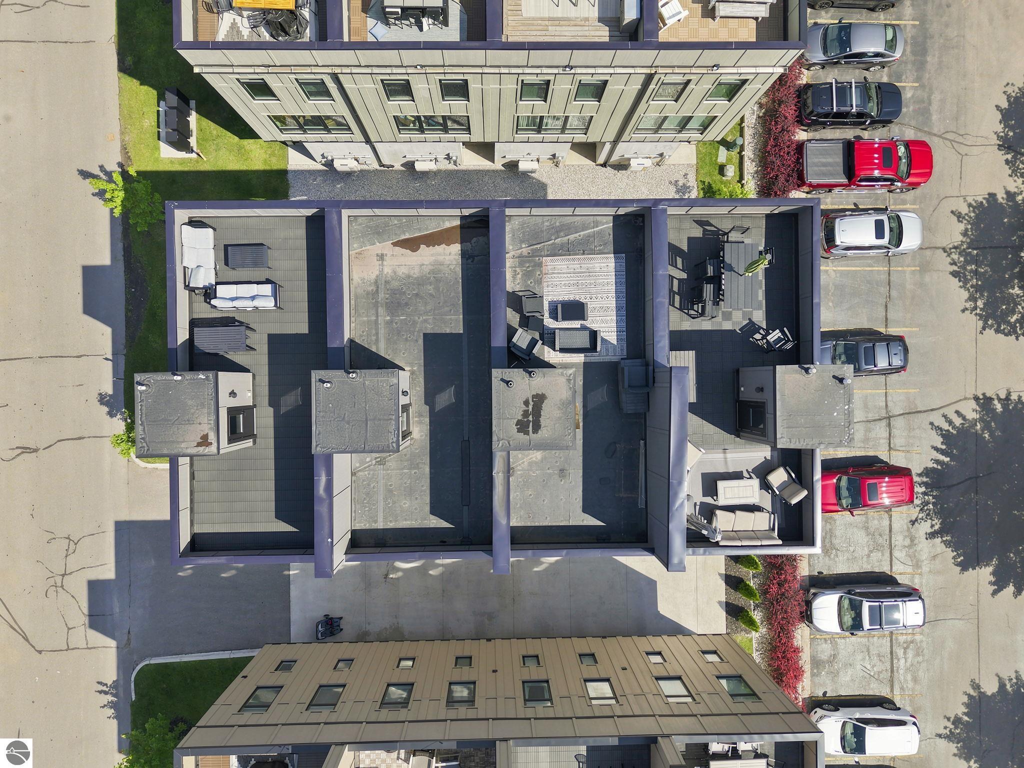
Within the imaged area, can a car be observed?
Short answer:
Yes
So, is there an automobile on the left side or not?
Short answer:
No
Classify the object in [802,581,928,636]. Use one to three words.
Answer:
car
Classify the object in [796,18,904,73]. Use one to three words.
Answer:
car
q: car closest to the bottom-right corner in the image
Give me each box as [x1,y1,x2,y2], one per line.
[806,697,919,757]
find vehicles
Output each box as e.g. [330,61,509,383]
[819,205,922,256]
[795,77,902,132]
[796,18,904,73]
[807,0,911,13]
[820,329,911,375]
[795,135,932,193]
[806,697,919,757]
[802,581,928,636]
[821,465,919,515]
